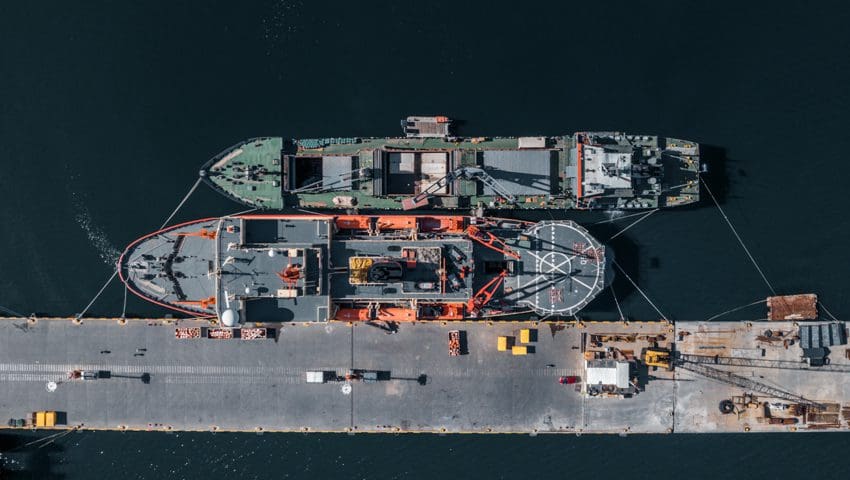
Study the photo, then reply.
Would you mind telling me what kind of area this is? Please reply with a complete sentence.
This looks like a port.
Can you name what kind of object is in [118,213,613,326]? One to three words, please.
ship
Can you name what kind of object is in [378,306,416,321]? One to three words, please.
boat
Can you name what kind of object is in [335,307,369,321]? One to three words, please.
boat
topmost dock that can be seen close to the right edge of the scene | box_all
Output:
[765,294,817,321]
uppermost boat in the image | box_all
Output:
[401,115,450,138]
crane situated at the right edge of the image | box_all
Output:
[639,345,830,409]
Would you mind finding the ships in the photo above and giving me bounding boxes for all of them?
[200,132,707,210]
[118,213,613,326]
